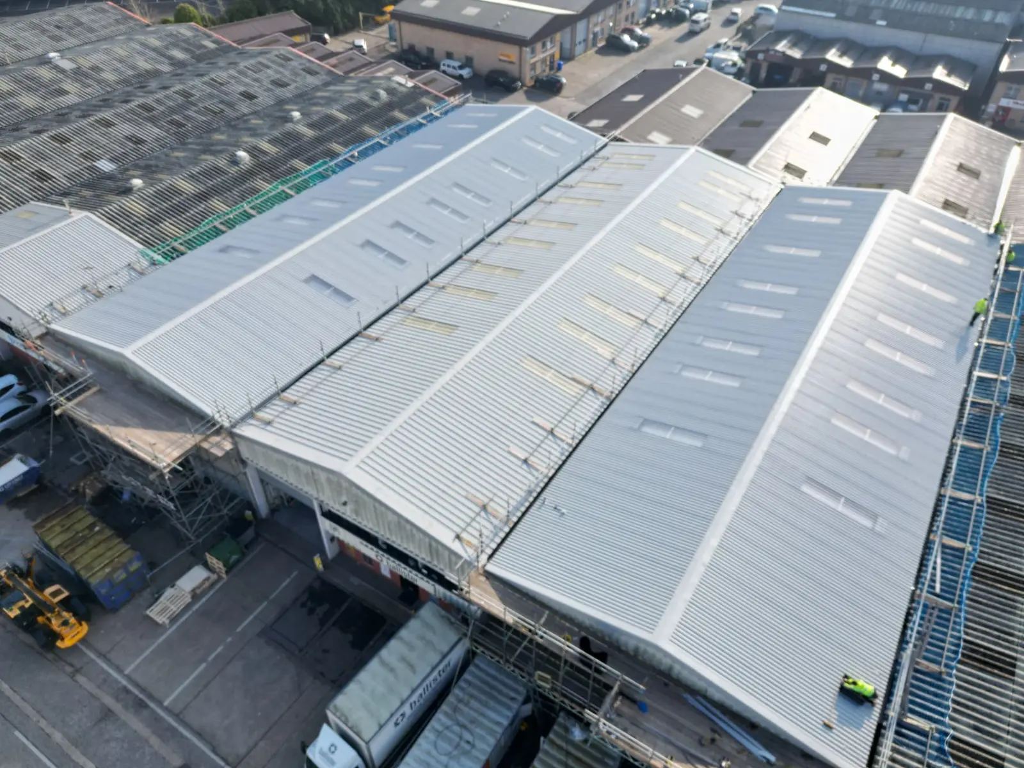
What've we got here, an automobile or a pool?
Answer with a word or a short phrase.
automobile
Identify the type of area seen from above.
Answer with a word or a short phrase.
industrial area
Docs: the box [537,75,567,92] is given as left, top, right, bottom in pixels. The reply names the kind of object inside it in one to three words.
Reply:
car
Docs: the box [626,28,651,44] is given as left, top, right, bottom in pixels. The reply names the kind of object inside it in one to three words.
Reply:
car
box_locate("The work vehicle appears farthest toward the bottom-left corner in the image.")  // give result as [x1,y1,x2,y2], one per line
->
[0,560,100,659]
